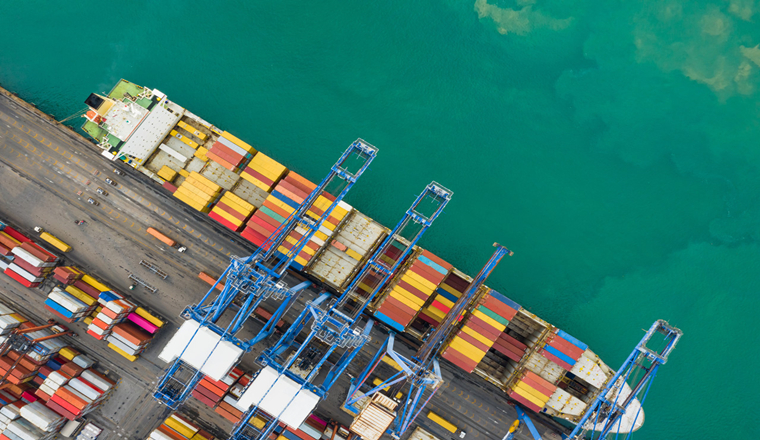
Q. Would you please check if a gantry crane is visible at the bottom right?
Yes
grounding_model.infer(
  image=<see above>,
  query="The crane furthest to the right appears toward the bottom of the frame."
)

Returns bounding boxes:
[499,323,686,440]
